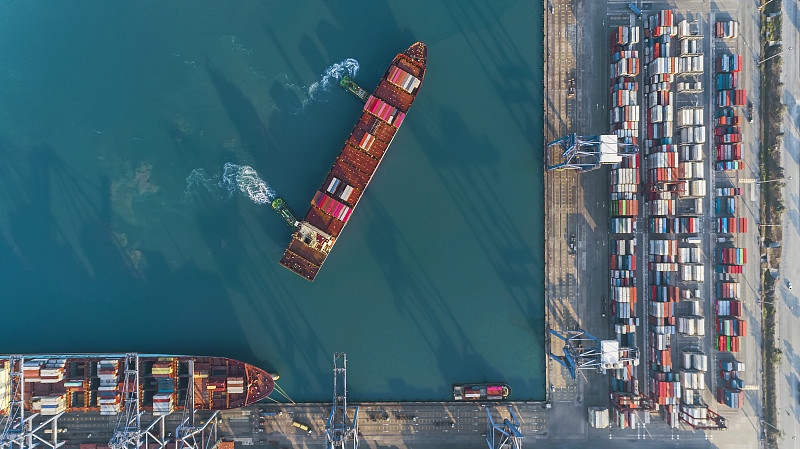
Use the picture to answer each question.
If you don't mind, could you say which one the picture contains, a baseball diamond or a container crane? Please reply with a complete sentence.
This aerial view contains a container crane.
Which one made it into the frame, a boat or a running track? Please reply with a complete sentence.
The image shows a boat.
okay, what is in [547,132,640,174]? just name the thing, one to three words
container crane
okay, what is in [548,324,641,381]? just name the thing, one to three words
container crane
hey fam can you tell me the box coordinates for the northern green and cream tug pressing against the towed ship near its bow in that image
[338,76,370,104]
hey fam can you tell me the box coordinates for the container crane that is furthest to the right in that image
[677,406,727,431]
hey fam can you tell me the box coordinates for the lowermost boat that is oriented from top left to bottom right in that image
[270,198,299,230]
